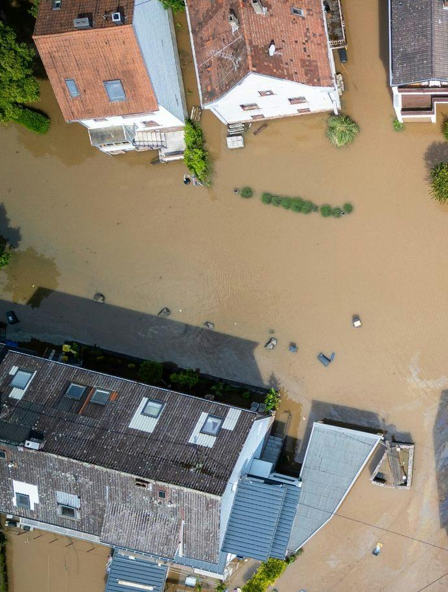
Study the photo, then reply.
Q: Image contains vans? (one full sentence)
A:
No, I can see no van in this picture.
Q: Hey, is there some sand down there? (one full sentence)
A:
No, there is no sand in the image.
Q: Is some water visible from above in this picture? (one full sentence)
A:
Yes, there is water in the image.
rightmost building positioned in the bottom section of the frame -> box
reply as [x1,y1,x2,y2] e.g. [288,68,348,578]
[289,423,383,550]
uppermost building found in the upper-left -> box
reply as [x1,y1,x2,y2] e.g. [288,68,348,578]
[32,0,188,138]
